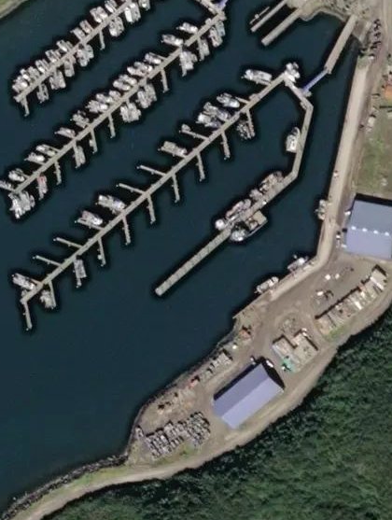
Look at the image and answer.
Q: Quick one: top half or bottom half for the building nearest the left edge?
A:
bottom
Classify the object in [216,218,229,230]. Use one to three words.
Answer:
boat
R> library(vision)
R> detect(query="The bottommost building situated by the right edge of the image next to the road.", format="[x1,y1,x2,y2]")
[345,199,392,258]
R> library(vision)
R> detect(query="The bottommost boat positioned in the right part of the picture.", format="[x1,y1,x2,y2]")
[256,277,278,294]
